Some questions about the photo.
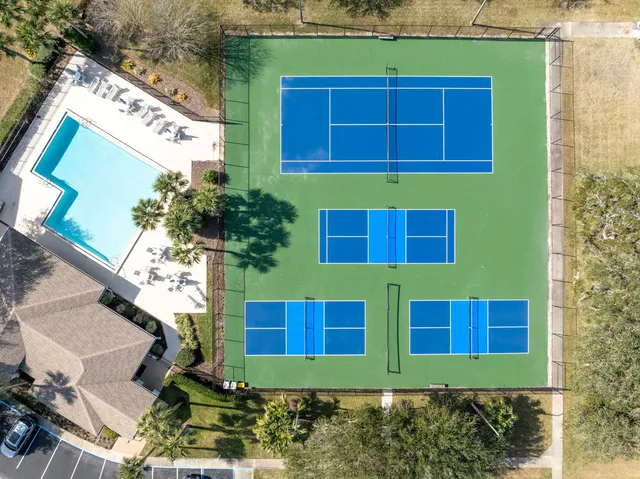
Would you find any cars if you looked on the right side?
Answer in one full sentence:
No, no car can be made out on the right side.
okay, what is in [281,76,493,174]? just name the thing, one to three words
tennis court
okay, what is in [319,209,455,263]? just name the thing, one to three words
sports court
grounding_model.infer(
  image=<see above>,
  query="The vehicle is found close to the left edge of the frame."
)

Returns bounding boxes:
[2,413,37,456]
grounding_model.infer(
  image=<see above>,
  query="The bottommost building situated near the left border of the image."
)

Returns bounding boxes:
[0,226,172,441]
